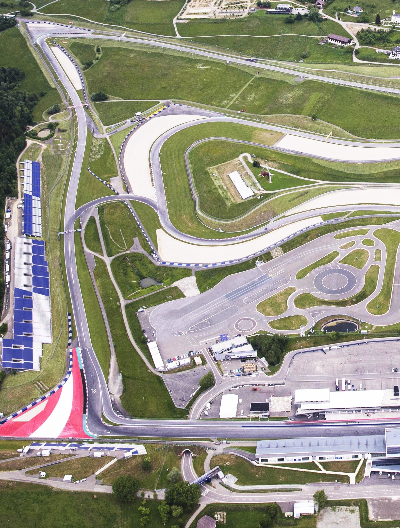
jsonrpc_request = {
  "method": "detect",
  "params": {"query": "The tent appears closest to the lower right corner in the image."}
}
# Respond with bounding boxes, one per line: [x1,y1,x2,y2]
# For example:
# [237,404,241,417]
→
[219,393,239,418]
